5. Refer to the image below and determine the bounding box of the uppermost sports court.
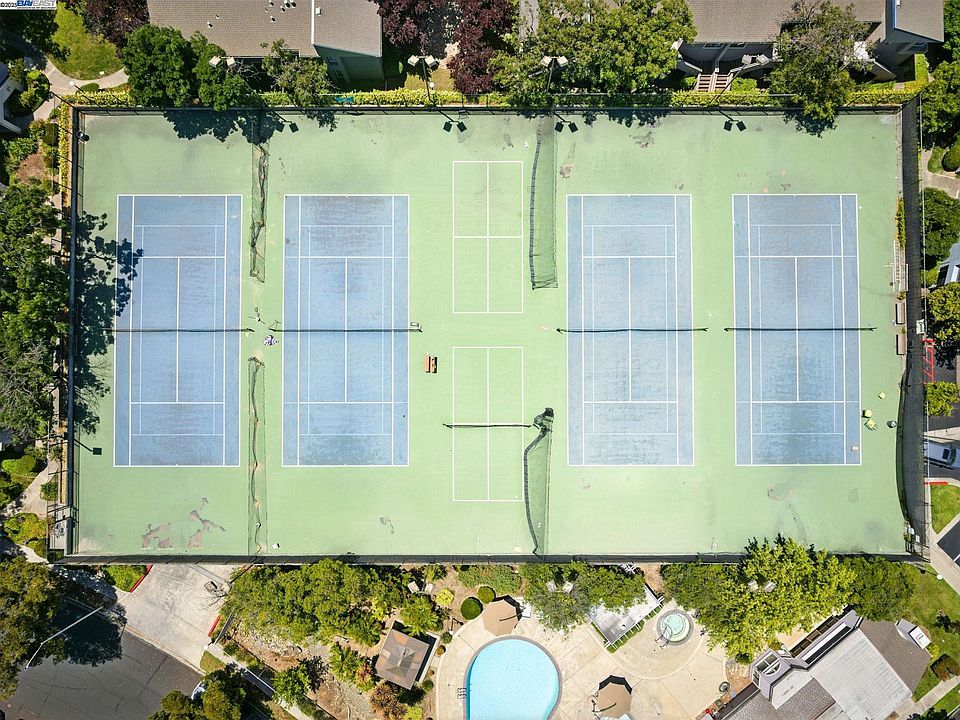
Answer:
[453,160,523,314]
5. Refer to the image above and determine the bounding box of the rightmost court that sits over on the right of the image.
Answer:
[733,195,862,466]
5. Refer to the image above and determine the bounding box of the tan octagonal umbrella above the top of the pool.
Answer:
[482,597,530,635]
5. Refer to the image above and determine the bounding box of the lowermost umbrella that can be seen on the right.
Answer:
[584,682,630,718]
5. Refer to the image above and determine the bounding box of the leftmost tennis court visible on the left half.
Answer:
[113,195,242,467]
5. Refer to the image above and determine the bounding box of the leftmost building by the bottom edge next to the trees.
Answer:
[374,620,442,689]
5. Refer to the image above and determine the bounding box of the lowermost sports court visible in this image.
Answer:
[452,346,523,502]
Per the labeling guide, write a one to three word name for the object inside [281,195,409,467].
tennis court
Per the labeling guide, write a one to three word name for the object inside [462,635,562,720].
swimming pool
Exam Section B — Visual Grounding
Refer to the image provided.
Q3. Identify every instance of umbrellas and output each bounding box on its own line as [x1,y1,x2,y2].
[584,682,630,718]
[482,597,530,635]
